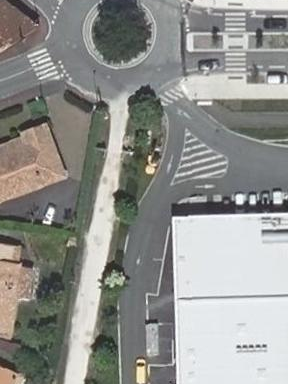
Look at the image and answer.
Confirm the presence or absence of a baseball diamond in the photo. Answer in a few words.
No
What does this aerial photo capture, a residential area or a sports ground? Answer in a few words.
residential area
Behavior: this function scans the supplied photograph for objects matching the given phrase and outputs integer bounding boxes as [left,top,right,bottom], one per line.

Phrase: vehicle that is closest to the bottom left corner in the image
[135,358,147,384]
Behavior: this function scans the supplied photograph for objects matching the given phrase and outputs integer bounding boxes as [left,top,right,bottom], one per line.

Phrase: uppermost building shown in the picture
[0,0,36,52]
